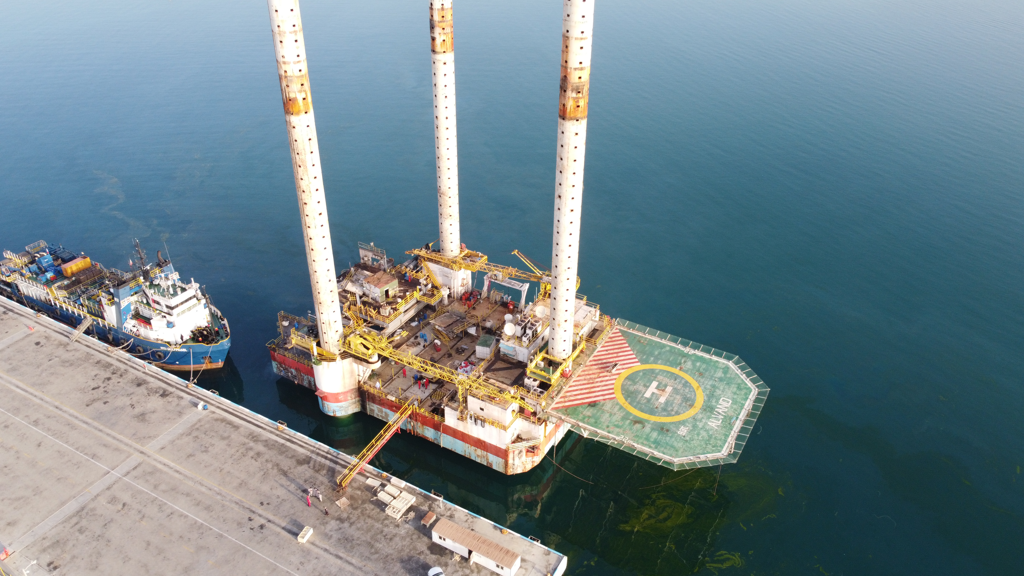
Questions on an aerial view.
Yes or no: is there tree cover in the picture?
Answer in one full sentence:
No, the picture contains no tree cover.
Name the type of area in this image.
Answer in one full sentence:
It's a port.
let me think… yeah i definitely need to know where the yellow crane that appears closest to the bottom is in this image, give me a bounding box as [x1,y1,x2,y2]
[341,315,537,433]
